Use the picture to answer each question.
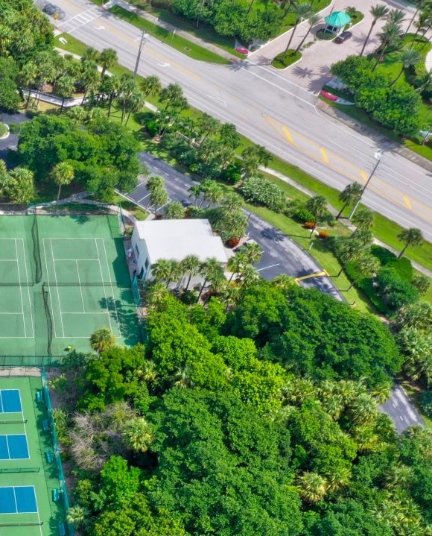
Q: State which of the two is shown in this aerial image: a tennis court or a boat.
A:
tennis court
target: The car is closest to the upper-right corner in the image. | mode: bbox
[333,28,352,41]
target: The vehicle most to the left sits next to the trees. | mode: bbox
[47,1,66,16]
